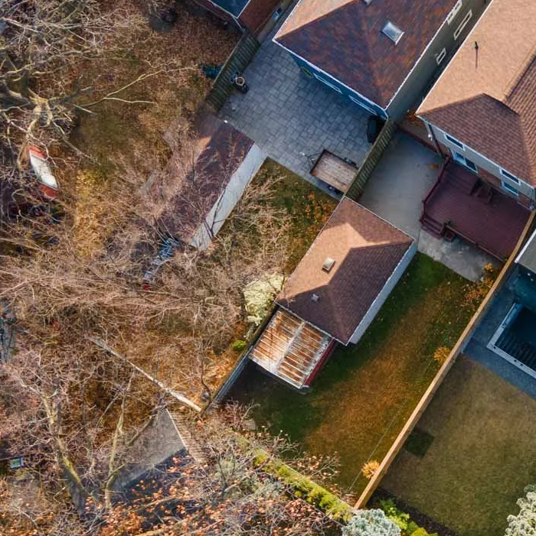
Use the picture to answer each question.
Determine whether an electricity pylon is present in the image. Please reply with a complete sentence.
No, the picture doesn't show any electricity pylon.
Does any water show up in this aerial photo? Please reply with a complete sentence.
No, there is no water in the image.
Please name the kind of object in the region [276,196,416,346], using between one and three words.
building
